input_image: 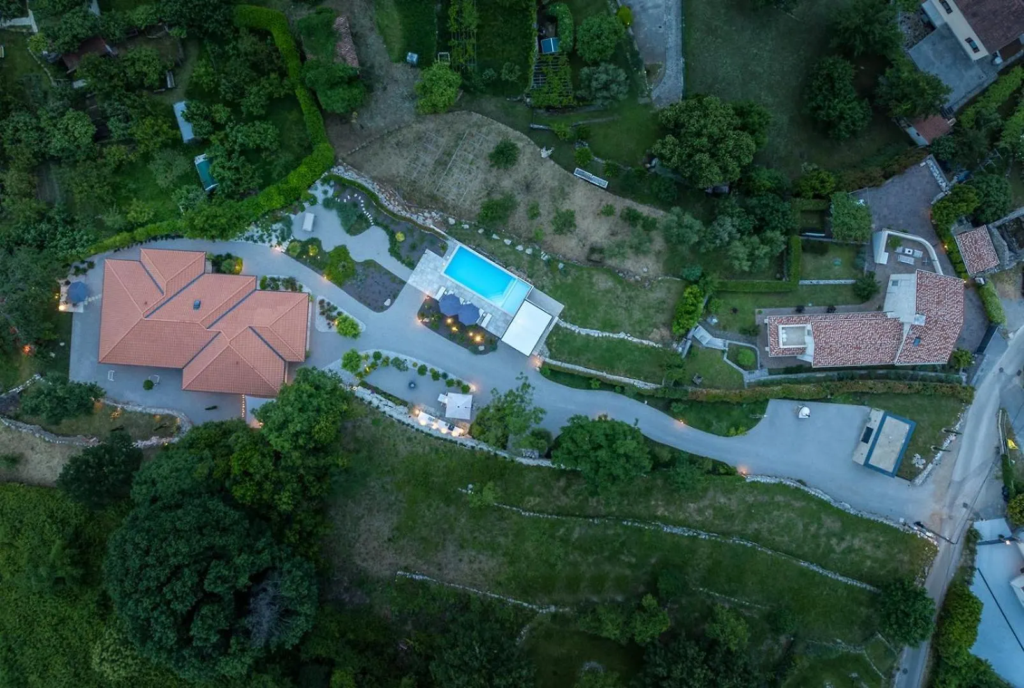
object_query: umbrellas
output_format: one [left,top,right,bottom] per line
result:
[440,295,461,316]
[446,393,472,419]
[69,282,94,303]
[458,303,481,326]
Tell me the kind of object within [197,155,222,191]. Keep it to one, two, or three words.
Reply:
greenhouse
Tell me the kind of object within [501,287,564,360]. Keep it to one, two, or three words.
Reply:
building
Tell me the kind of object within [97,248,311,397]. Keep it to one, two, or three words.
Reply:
house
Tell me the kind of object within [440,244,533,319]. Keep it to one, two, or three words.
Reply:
swimming pool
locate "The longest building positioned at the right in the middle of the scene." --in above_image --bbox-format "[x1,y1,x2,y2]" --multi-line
[763,269,965,368]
